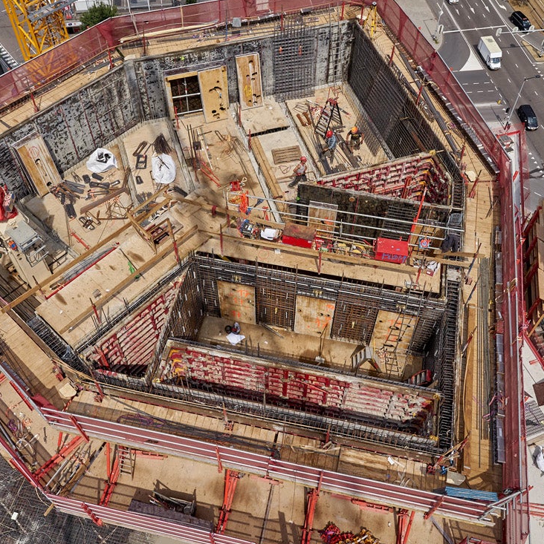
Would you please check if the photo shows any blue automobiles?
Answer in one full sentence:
No, I can't see a single blue automobile in this photo.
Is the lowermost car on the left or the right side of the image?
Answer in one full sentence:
The lowermost car sits on the right side.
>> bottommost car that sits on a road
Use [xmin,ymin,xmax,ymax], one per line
[517,103,539,129]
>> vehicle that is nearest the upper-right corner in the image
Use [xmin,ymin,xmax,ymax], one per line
[512,8,530,29]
